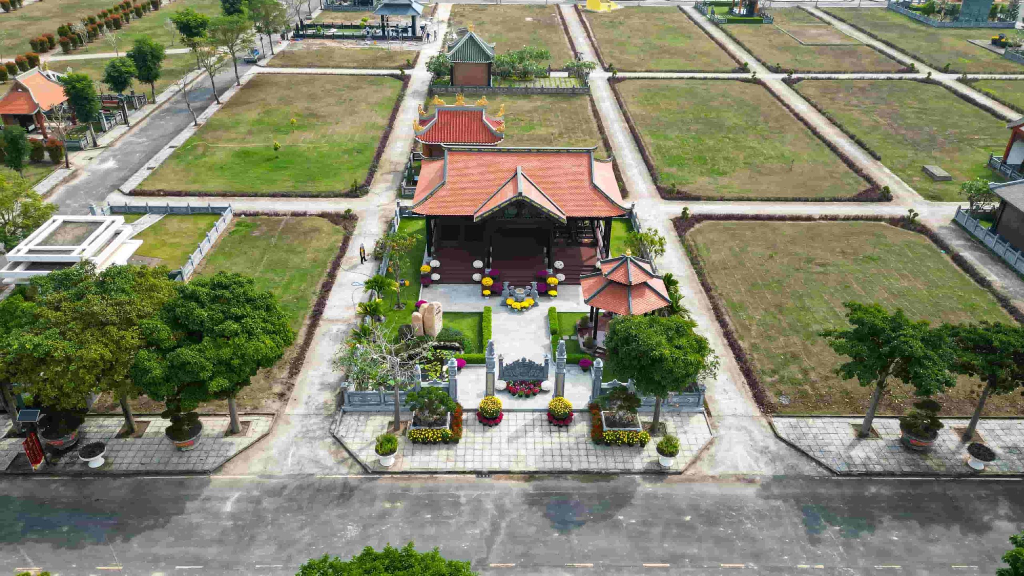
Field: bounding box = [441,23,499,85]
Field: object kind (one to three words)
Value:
building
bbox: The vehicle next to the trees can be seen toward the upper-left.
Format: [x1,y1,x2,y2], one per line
[243,46,262,61]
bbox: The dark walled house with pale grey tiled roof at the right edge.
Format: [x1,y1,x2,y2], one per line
[989,175,1024,250]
